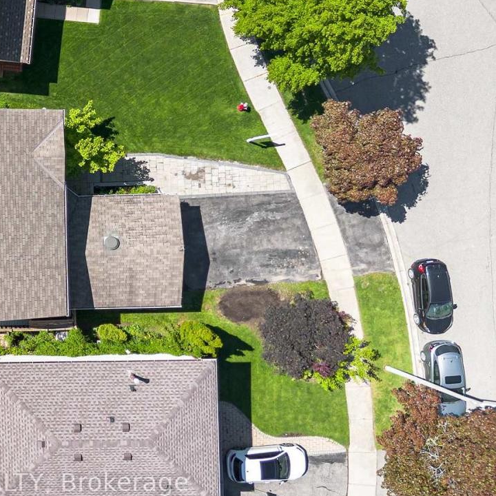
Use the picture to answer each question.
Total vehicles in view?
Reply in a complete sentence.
The photo contains 3 vehicles.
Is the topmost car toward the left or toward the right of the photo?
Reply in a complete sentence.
The topmost car is on the right side of the image.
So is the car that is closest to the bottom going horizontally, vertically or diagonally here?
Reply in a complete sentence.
The car that is closest to the bottom is laid out horizontally.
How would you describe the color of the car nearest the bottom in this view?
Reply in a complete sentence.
In this view, the car nearest the bottom is white.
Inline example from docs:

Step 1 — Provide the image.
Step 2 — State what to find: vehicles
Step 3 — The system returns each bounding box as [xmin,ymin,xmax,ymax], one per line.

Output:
[231,444,311,485]
[419,341,467,419]
[407,259,456,335]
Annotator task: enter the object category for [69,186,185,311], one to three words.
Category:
building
